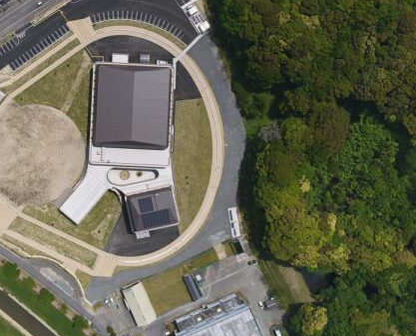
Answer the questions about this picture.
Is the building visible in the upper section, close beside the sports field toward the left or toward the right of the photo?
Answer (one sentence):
The building visible in the upper section, close beside the sports field appears in the left half of the scene.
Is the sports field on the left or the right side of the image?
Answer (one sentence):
The sports field is on the left side of the image.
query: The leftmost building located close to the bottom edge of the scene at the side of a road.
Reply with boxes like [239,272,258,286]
[122,280,157,328]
